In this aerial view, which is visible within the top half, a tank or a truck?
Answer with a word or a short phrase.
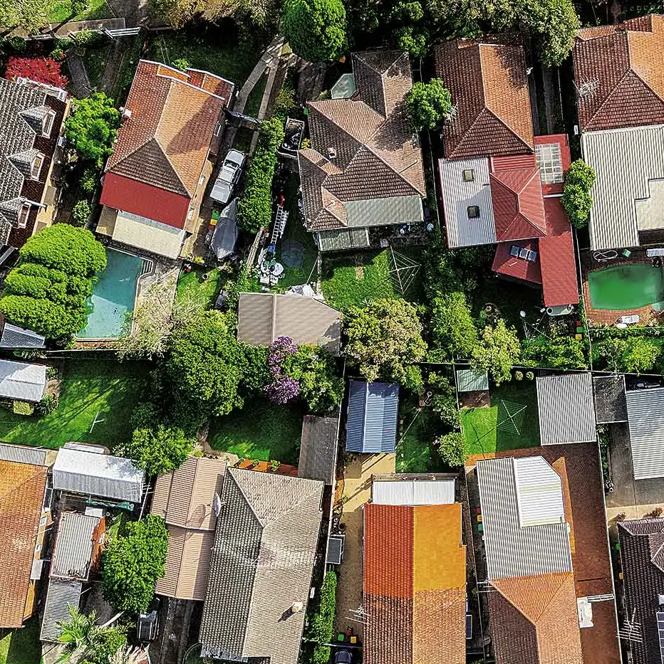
truck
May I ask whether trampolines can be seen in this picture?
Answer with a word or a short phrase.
Yes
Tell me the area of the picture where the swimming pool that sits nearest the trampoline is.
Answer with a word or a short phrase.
left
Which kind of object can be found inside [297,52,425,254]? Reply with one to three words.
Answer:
house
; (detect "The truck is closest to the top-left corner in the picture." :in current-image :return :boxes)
[206,149,245,204]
